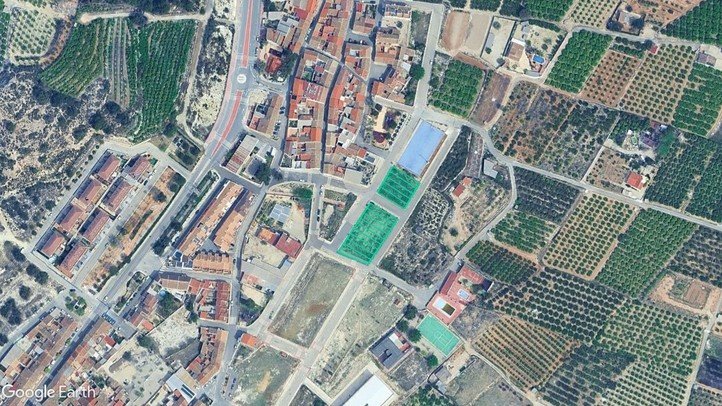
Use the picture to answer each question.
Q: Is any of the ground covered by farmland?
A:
Yes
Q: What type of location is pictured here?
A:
residential area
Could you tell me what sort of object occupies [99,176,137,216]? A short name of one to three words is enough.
house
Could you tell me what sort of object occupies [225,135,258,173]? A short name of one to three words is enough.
building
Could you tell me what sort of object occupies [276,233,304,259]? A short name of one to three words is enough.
building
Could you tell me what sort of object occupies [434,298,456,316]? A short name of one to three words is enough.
swimming pool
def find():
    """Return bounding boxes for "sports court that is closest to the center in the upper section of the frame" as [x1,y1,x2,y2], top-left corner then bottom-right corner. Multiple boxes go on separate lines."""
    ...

[395,119,450,178]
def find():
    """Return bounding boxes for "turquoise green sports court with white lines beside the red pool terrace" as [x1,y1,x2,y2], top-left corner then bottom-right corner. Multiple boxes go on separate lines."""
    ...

[415,314,465,359]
